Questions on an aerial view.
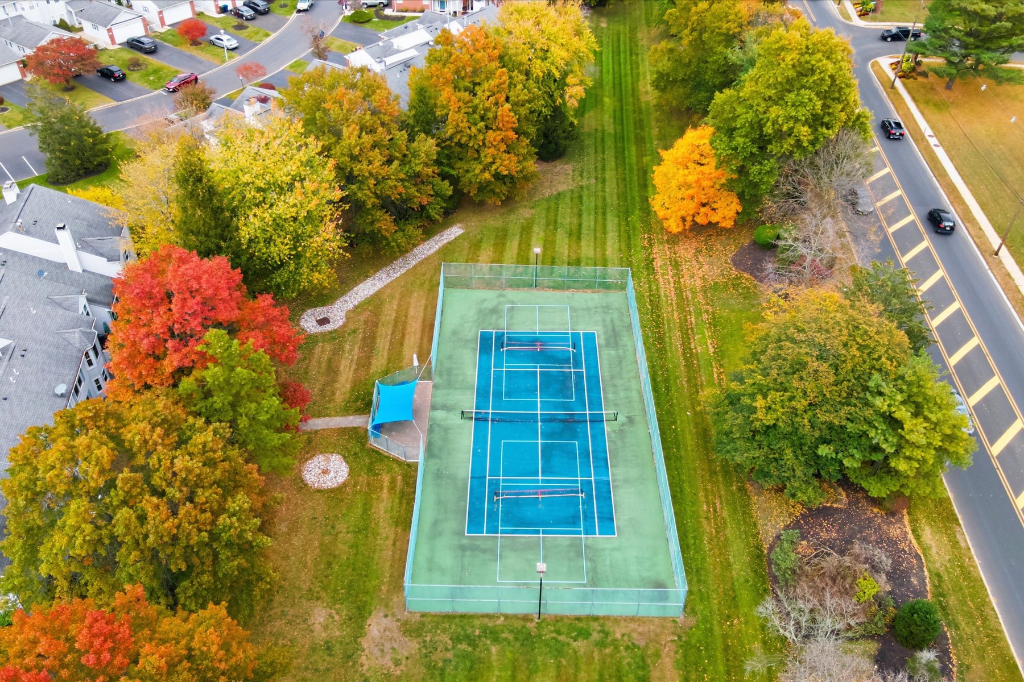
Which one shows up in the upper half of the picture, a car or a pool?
car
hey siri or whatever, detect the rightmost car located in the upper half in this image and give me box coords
[931,209,958,234]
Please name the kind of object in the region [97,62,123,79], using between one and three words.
car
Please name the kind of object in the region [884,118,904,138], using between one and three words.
car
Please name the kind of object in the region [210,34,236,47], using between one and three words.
vehicle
